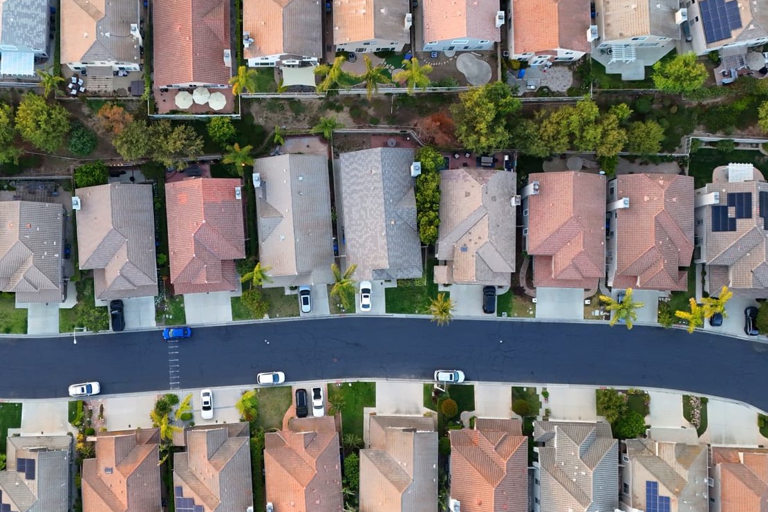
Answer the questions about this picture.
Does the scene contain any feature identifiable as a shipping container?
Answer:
No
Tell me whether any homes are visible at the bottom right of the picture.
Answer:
Yes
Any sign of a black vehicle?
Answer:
Yes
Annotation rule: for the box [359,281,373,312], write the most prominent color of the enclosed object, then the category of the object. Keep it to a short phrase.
white car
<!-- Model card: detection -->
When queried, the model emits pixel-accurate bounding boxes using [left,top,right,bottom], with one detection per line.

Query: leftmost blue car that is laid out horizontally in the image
[162,326,192,340]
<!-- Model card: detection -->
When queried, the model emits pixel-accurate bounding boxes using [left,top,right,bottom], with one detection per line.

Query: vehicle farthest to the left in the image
[68,380,103,396]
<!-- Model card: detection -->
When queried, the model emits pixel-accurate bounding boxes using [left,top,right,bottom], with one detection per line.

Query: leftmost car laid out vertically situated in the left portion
[109,299,125,332]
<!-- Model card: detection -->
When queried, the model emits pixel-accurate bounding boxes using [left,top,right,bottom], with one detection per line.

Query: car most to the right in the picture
[742,305,759,336]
